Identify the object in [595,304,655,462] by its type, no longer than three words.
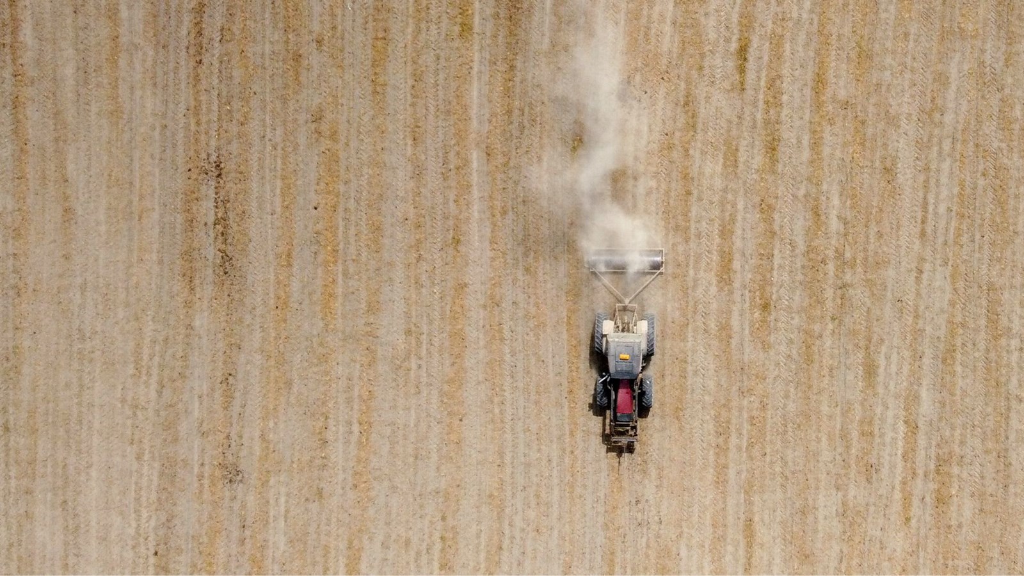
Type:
work vehicle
